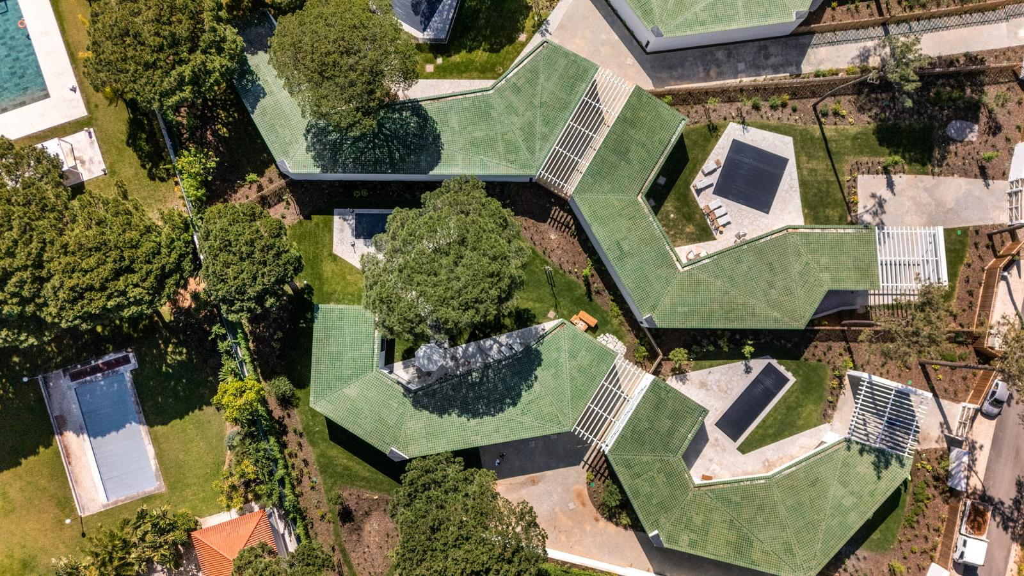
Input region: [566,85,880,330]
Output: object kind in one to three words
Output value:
building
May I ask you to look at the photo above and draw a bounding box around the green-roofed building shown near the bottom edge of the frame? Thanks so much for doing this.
[603,376,913,576]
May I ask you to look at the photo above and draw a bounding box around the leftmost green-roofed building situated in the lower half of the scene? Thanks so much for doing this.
[310,304,619,459]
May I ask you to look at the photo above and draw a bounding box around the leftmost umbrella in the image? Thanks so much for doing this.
[417,343,445,371]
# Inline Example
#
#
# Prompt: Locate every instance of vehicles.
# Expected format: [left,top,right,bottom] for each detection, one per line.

[954,500,1000,571]
[981,374,1015,415]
